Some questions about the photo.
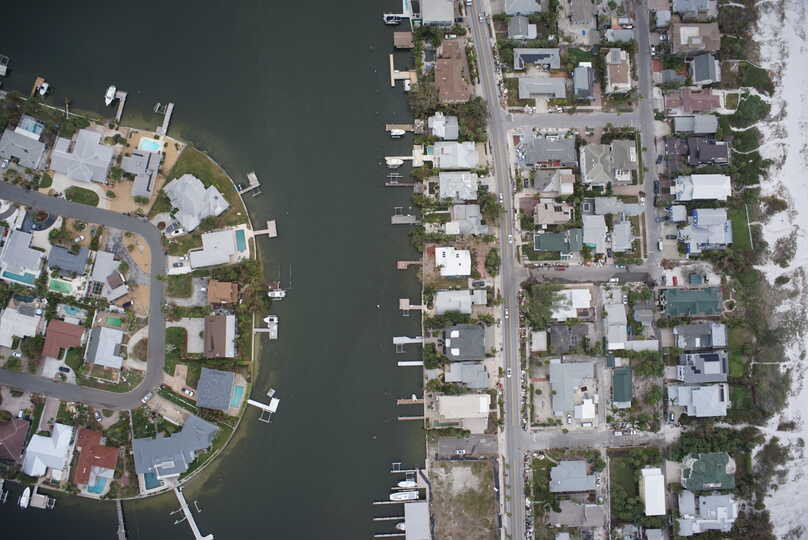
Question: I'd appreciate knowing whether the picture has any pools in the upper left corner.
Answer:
Yes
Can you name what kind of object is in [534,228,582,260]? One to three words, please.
house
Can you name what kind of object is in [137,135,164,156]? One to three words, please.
swimming pool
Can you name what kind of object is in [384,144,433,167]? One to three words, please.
pier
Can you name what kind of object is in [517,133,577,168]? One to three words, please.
house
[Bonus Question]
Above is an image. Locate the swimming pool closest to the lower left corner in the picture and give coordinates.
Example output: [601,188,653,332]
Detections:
[80,477,112,497]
